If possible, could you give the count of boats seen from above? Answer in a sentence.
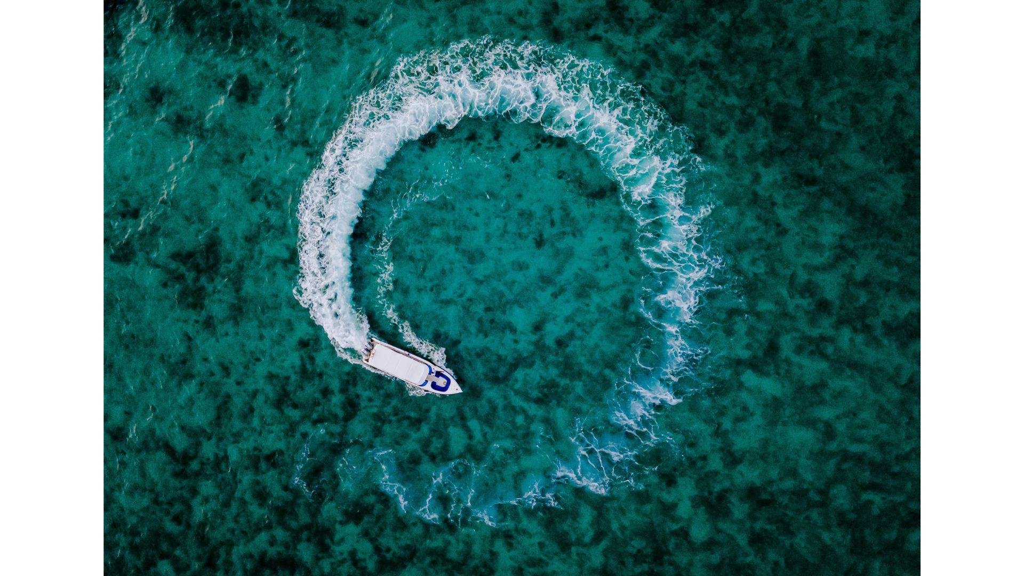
The picture shows just 1 boat.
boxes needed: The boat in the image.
[361,337,463,394]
